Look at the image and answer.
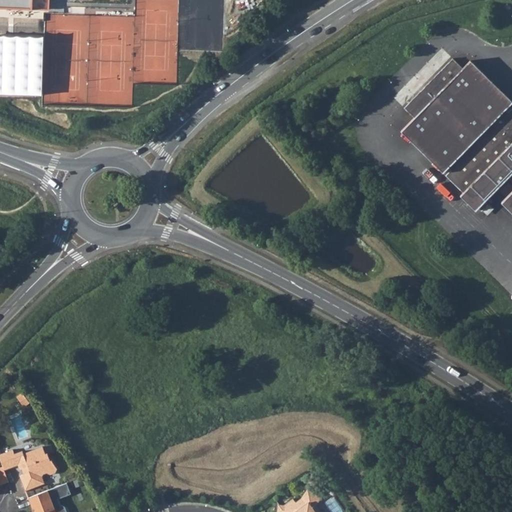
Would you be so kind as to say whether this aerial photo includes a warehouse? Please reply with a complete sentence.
Yes, the photo shows a warehouse.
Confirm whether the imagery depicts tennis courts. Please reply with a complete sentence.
Yes, there's a tennis court here.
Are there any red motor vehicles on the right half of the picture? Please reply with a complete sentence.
Yes, on the right half of the picture there is a red motor vehicle.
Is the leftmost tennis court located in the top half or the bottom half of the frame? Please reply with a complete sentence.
The leftmost tennis court sits in the top half of the picture.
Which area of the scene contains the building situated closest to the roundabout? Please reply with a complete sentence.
The building situated closest to the roundabout appears toward the top left of the photo.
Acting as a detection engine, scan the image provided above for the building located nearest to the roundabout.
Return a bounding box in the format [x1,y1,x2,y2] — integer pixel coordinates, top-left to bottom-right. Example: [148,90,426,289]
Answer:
[0,36,44,97]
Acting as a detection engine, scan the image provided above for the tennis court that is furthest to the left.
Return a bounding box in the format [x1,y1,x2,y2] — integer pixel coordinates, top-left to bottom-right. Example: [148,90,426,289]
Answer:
[43,14,89,104]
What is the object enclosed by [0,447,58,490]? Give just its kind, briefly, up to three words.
house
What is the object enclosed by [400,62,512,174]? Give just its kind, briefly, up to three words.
warehouse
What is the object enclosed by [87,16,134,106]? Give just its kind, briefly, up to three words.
tennis court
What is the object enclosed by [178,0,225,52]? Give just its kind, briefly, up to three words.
sports court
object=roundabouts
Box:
[61,146,161,247]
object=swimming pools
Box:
[12,414,30,446]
